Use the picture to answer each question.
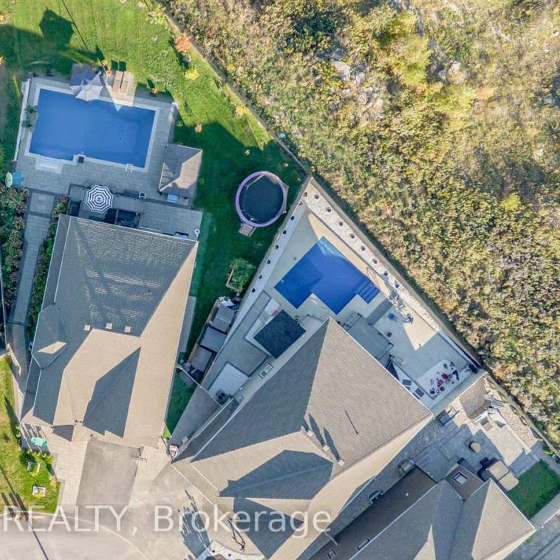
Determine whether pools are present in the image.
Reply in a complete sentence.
Yes, a pool is visible in the scene.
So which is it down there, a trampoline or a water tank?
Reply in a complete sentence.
Looking from above, you can make out a trampoline.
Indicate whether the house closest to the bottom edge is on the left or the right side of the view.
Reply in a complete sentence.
It is on the right.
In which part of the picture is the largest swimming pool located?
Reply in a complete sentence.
You can find the largest swimming pool in the top left area of the picture.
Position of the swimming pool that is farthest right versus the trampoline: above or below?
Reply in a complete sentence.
Looking at the photo, you'll find the swimming pool that is farthest right below the trampoline.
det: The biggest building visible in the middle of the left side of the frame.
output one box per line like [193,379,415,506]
[20,214,199,449]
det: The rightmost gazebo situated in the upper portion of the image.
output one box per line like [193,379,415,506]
[158,144,202,199]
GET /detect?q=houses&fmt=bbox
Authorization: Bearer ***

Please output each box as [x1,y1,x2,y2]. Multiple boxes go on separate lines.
[20,214,199,449]
[171,318,433,560]
[304,464,536,560]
